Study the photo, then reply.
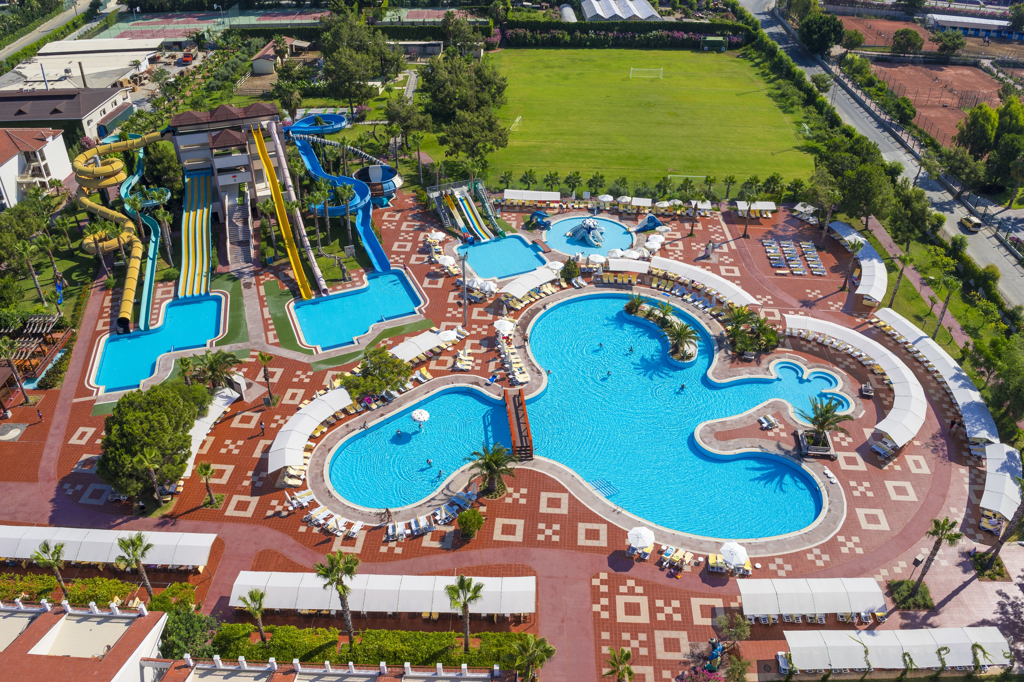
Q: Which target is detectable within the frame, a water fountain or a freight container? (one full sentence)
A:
This aerial view contains a water fountain.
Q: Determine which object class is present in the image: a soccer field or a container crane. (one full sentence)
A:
Visible in the photo is a soccer field.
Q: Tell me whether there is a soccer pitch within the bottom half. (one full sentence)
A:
No, there is no soccer pitch within the bottom half.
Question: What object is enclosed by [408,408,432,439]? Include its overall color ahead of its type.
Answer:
white fountain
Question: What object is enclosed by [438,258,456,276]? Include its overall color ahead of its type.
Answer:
white umbrella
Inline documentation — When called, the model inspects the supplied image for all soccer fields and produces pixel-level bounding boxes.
[488,48,827,204]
